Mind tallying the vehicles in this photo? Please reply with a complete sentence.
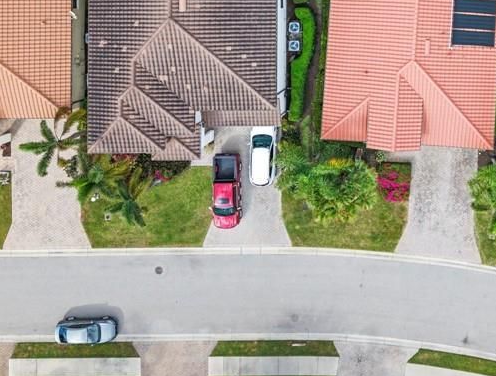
In total, 3 vehicles can be seen.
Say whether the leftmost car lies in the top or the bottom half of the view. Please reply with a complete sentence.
The leftmost car is in the bottom half of the image.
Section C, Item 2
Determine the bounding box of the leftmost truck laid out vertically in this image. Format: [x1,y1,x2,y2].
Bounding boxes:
[209,152,242,229]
